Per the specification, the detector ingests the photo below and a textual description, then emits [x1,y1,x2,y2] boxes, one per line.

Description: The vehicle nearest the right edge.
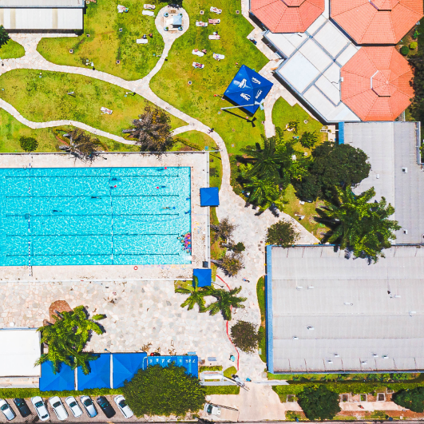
[207,406,246,424]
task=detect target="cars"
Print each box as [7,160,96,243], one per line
[64,395,83,421]
[0,398,17,424]
[30,395,49,424]
[11,398,31,421]
[47,395,69,423]
[79,394,98,420]
[114,396,134,420]
[94,395,117,422]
